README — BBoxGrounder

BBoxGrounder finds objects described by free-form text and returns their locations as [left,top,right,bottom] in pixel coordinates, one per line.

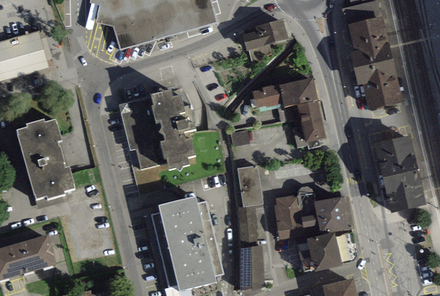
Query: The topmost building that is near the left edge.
[0,32,48,80]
